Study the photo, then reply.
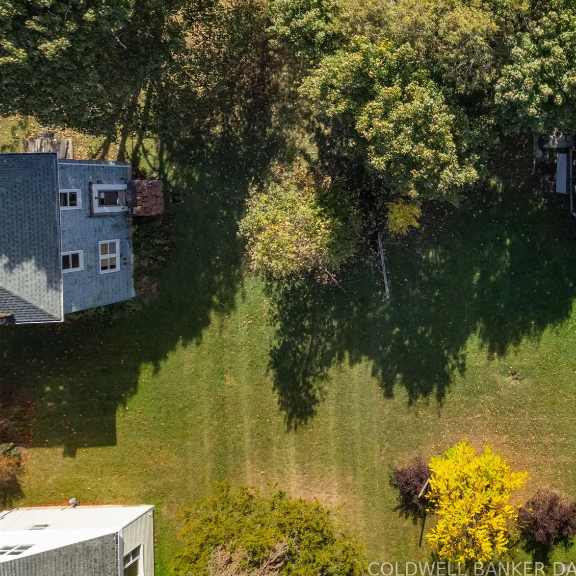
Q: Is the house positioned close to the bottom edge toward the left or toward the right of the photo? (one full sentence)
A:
The house positioned close to the bottom edge sits on the left side.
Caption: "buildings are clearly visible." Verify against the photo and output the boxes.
[0,505,156,576]
[0,148,137,325]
